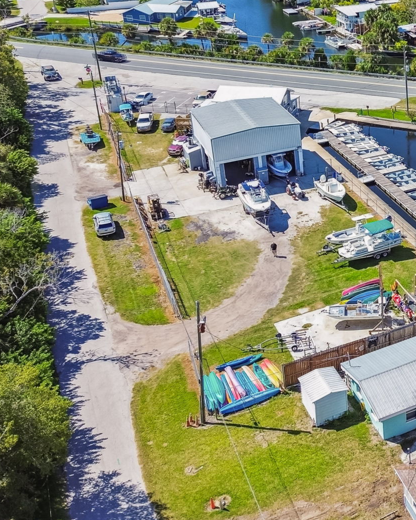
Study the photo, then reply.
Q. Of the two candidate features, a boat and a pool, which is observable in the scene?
boat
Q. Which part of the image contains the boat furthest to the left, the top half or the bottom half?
top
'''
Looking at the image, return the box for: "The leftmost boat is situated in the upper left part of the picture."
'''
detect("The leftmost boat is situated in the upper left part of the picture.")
[77,119,98,144]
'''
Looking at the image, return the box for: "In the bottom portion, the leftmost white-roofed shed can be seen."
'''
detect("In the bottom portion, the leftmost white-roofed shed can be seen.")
[295,365,349,424]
